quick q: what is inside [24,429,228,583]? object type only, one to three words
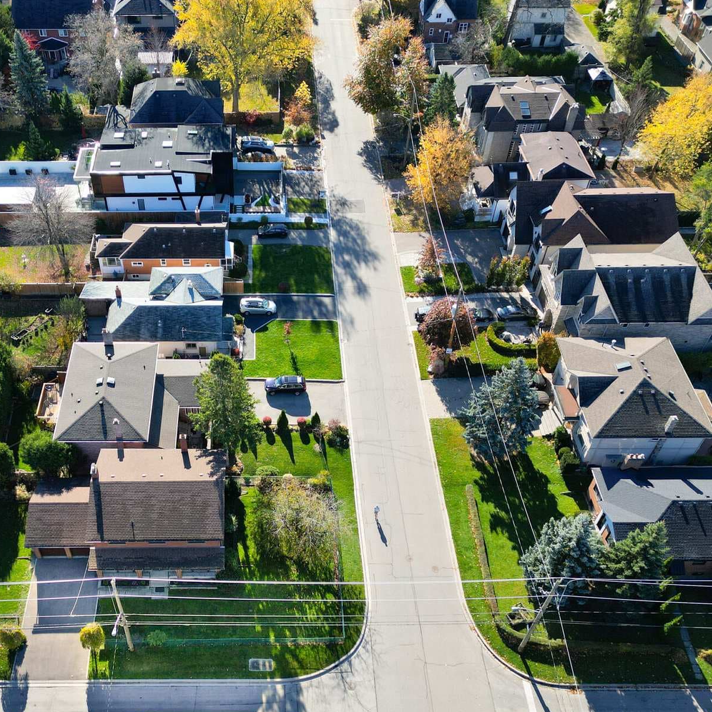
house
